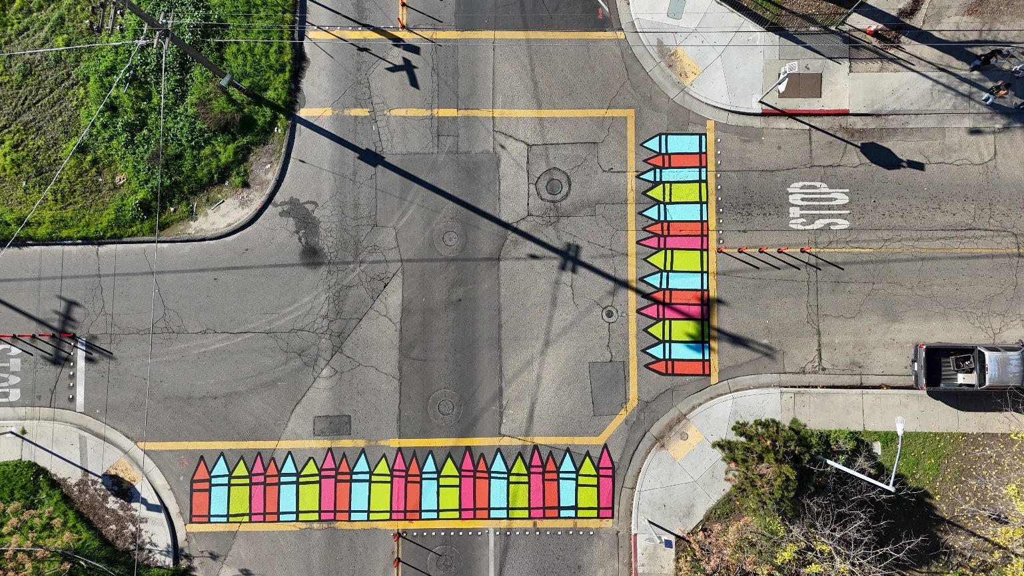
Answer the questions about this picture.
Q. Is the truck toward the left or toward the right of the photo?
right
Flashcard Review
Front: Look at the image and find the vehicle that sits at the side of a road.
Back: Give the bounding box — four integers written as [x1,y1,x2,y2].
[905,338,1024,398]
